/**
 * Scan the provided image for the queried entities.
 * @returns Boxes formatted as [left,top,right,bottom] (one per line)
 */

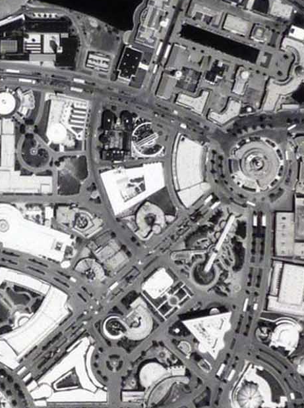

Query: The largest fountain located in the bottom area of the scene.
[13,311,32,327]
